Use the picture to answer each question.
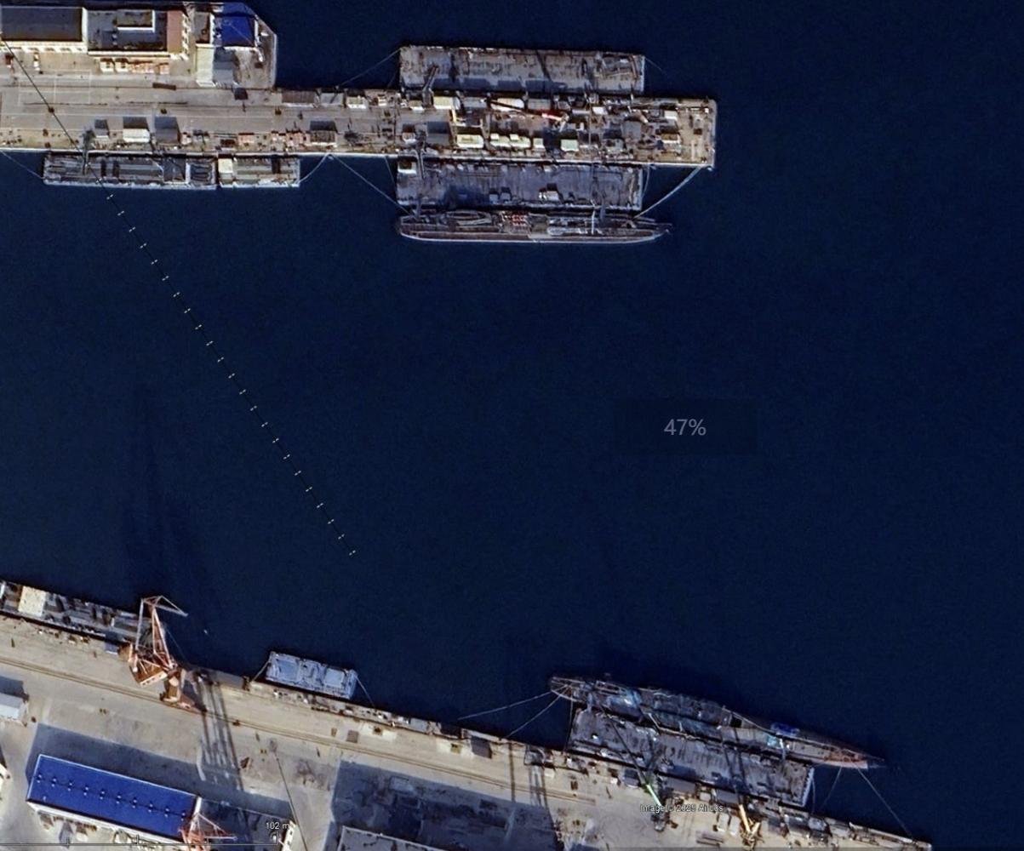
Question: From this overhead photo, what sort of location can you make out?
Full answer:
What you see here is a port.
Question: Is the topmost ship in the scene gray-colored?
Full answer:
Yes, gray is the color of the topmost ship.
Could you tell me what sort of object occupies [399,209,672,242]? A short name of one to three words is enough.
ship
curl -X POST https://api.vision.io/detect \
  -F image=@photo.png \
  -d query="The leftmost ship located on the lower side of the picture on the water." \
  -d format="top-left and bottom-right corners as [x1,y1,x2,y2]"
[0,581,151,641]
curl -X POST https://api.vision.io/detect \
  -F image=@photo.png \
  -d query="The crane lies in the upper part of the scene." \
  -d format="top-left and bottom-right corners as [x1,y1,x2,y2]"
[491,99,572,134]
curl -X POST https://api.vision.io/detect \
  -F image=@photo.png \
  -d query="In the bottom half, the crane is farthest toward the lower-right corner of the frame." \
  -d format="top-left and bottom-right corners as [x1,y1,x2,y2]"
[725,723,761,849]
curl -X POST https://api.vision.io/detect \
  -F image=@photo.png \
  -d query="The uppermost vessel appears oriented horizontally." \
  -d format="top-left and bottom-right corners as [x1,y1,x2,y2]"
[401,43,645,95]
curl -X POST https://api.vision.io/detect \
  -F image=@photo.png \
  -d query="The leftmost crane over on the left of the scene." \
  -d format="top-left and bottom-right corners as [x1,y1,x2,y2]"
[119,596,211,712]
